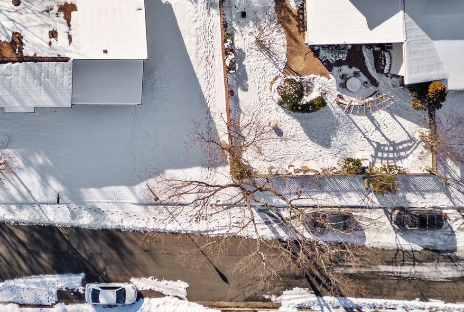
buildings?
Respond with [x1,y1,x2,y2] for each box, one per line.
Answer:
[0,0,148,113]
[295,0,464,91]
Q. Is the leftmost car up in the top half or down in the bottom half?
bottom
